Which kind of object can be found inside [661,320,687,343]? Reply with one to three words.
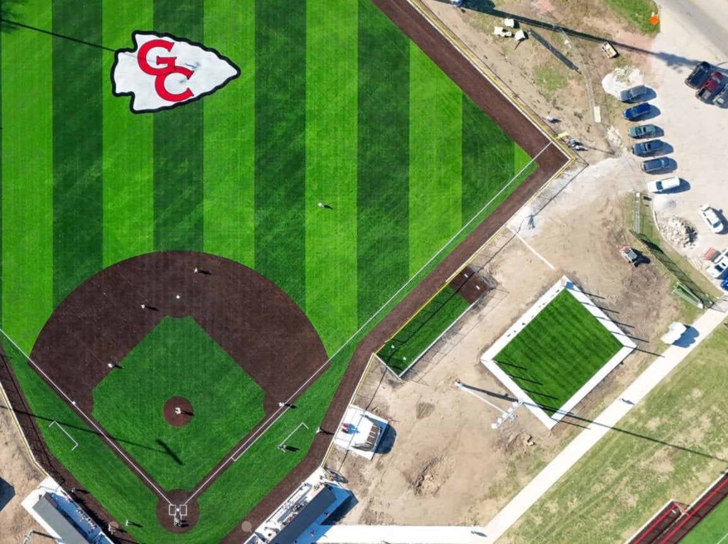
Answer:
vehicle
